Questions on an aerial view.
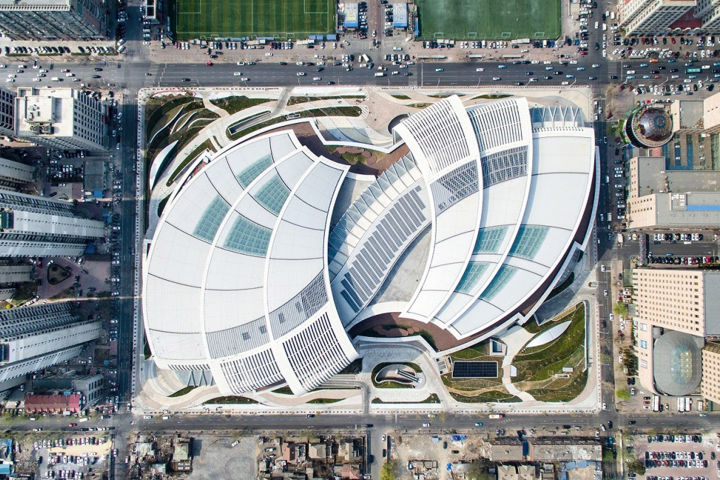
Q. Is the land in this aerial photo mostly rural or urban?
urban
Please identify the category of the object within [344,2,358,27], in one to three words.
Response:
shed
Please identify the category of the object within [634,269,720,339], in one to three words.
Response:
building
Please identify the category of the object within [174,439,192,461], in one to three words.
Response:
house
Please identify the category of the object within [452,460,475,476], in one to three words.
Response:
house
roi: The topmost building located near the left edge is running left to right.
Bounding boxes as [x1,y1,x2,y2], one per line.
[0,0,105,44]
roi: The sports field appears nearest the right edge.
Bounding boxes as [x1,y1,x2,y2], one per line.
[417,0,562,40]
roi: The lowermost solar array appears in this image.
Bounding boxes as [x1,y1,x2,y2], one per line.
[451,361,498,379]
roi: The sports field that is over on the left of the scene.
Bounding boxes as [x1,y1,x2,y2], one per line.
[176,0,335,40]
